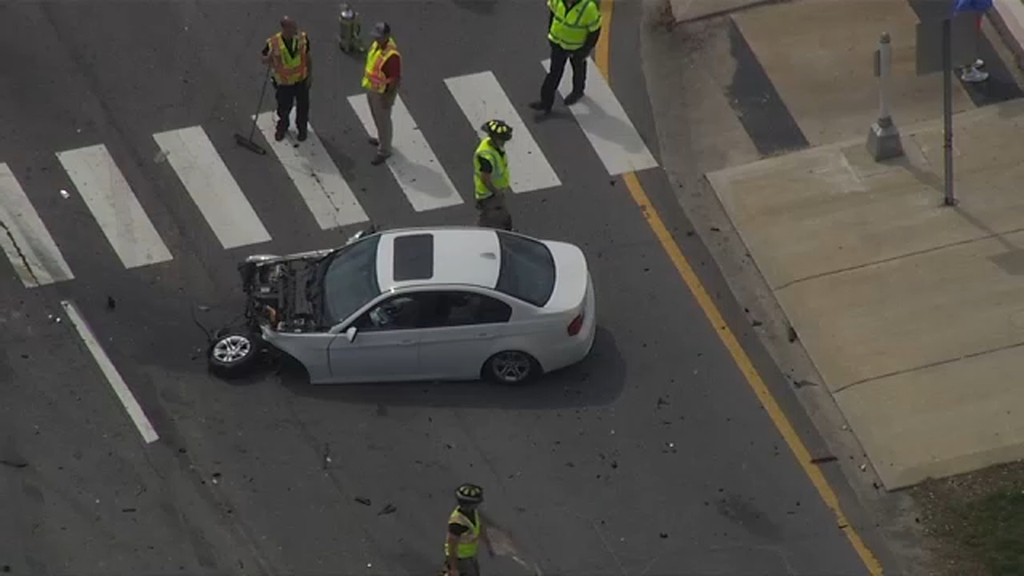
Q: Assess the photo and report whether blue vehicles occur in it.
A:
No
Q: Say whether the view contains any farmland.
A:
No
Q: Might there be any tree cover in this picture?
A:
No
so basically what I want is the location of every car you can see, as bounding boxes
[203,226,596,386]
